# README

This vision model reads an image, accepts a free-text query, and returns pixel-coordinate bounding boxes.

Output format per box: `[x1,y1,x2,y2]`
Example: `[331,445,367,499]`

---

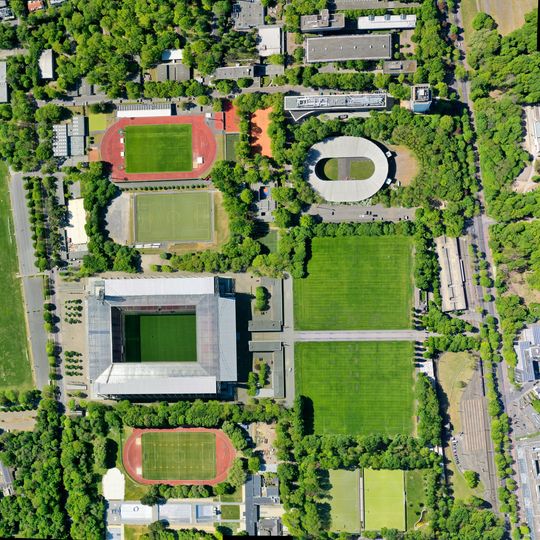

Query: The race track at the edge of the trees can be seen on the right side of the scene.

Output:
[308,136,388,201]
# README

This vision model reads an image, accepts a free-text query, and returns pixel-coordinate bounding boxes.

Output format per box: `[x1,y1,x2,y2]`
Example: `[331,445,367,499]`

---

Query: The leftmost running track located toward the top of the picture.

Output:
[100,117,216,181]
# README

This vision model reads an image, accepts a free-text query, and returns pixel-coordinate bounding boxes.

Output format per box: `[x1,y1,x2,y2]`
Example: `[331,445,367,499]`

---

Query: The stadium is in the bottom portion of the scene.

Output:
[88,277,237,403]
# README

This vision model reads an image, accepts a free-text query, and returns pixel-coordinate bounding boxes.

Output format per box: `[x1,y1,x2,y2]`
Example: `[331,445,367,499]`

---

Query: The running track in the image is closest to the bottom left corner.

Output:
[122,428,236,487]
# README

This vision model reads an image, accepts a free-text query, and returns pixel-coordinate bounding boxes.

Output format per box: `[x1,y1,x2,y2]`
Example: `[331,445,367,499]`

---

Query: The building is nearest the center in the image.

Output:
[248,277,282,331]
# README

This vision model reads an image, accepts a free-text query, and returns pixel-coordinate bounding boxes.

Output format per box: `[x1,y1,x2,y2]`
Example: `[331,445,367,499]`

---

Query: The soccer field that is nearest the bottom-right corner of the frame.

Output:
[364,469,404,531]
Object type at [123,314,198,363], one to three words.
sports field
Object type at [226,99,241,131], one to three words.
sports court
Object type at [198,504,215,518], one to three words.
swimming pool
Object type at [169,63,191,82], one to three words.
building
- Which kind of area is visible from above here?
sports ground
